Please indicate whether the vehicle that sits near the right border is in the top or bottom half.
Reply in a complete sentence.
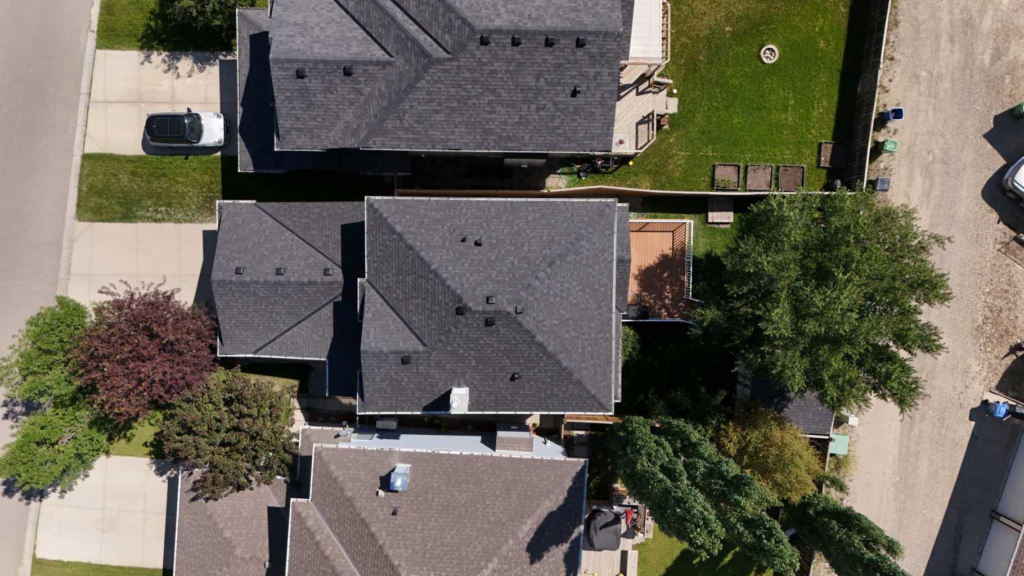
The vehicle that sits near the right border sits in the top half of the picture.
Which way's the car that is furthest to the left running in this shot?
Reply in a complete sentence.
The car that is furthest to the left is oriented horizontally.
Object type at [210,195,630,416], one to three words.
house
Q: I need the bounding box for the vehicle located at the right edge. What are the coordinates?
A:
[997,158,1024,210]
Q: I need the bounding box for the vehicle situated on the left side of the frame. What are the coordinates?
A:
[142,105,229,148]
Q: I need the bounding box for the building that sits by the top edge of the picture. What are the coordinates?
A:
[236,0,635,176]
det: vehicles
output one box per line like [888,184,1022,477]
[142,105,229,148]
[997,158,1024,210]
